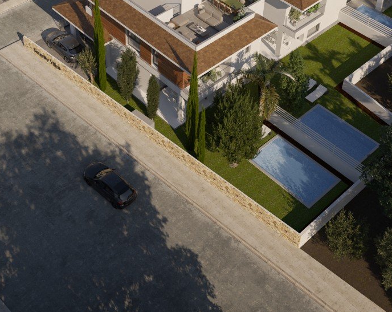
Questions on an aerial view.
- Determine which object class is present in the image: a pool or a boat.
pool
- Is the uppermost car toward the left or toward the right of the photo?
left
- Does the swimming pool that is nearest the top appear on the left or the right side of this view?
right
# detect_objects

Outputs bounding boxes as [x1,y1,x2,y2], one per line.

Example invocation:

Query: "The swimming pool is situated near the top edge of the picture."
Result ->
[364,13,392,39]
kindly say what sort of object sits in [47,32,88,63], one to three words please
car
